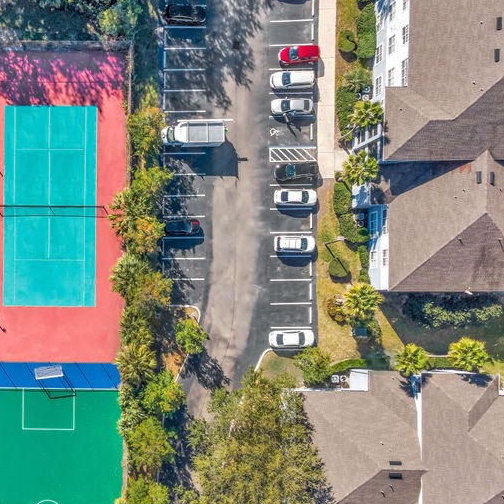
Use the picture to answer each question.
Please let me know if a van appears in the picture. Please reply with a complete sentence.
Yes, there's a van down there.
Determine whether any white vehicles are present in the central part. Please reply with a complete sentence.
Yes, I can see a white vehicle in the central part.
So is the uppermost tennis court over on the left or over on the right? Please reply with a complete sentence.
It is on the left.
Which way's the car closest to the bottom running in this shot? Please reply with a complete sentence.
The car closest to the bottom is laid out horizontally.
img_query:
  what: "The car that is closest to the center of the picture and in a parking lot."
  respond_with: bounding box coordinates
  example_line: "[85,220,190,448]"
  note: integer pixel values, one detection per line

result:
[273,234,315,254]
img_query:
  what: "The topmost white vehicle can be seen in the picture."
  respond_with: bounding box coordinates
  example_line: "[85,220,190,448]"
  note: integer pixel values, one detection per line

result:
[269,69,315,91]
